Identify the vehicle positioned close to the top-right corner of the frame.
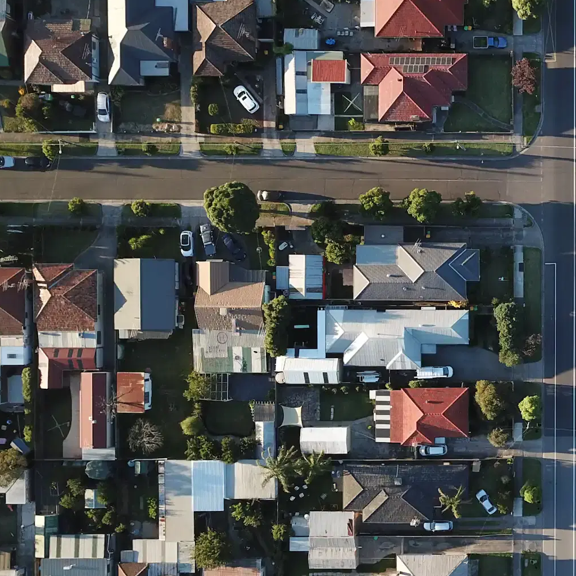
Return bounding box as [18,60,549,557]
[473,34,507,50]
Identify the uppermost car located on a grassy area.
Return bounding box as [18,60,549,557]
[234,85,261,115]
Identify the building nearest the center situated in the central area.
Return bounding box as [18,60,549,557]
[276,254,329,300]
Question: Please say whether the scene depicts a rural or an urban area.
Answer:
urban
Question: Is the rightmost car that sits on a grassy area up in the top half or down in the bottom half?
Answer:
bottom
